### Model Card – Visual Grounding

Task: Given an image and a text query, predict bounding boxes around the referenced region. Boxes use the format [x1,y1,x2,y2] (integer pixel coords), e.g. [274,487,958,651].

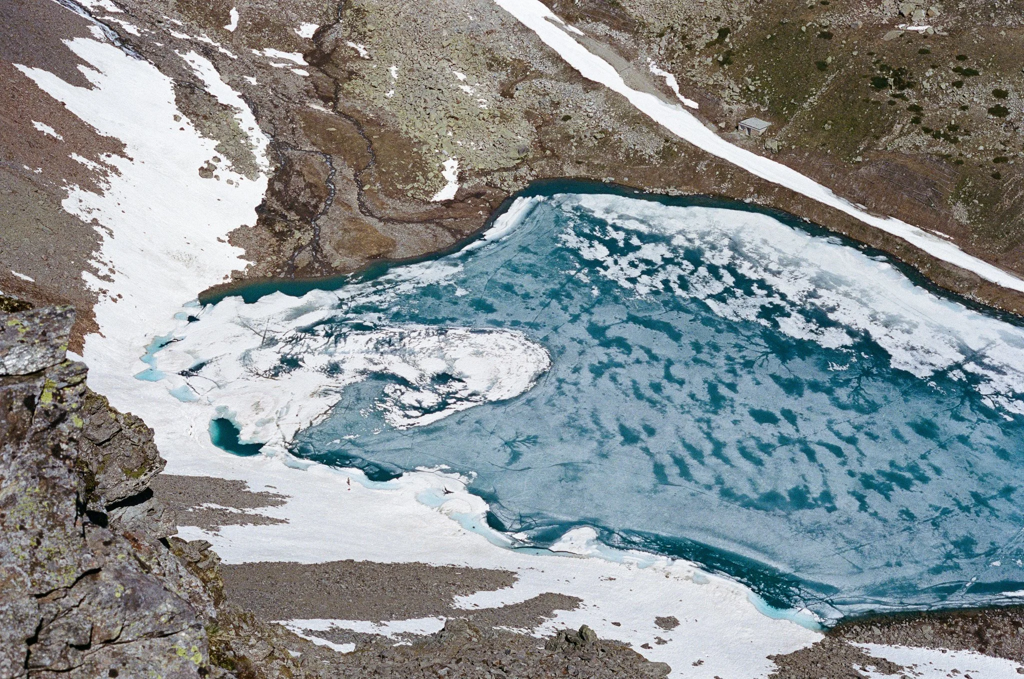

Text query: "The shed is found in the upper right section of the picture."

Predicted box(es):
[739,119,769,142]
